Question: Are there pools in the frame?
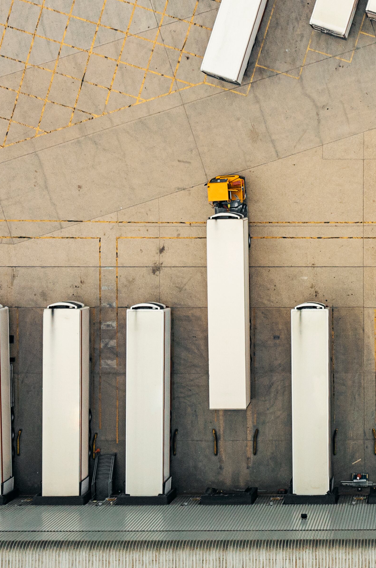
No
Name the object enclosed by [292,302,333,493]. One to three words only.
trailer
